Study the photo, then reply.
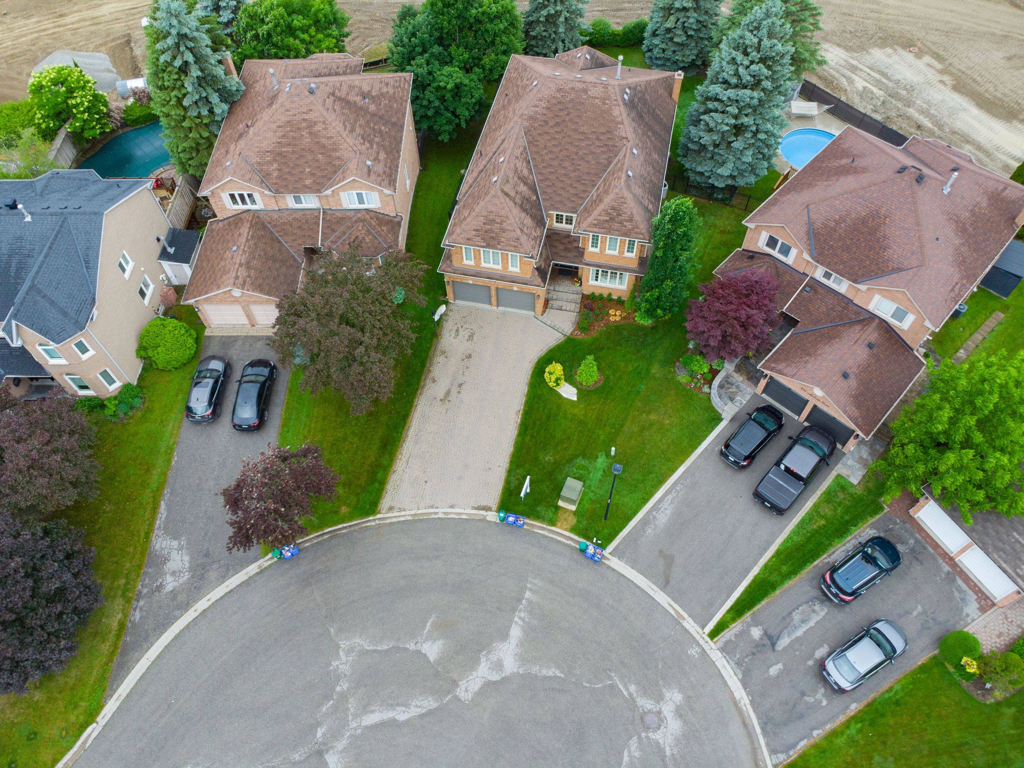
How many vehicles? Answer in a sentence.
My tally gives 6 vehicles in this view.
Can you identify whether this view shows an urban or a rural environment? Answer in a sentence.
This place is urban.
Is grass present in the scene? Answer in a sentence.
Yes, there's grass in this view.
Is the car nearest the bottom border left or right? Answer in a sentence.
You can find the car nearest the bottom border on the right side of the picture.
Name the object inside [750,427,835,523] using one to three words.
truck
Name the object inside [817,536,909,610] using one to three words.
car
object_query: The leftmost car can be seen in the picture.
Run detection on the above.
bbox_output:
[181,357,231,425]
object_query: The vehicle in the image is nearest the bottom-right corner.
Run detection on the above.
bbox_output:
[813,623,913,700]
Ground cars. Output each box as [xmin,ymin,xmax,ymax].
[817,536,909,610]
[813,623,913,700]
[719,404,787,477]
[228,362,275,434]
[181,357,231,425]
